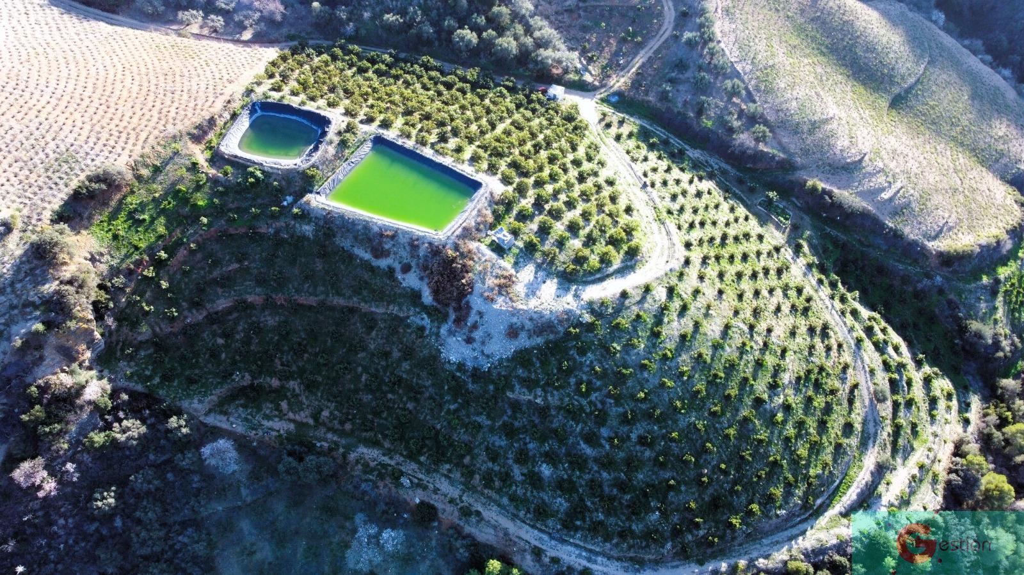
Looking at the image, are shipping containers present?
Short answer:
No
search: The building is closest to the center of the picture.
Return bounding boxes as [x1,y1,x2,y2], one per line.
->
[492,228,514,251]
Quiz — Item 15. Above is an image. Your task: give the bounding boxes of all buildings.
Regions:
[547,84,566,102]
[492,228,514,251]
